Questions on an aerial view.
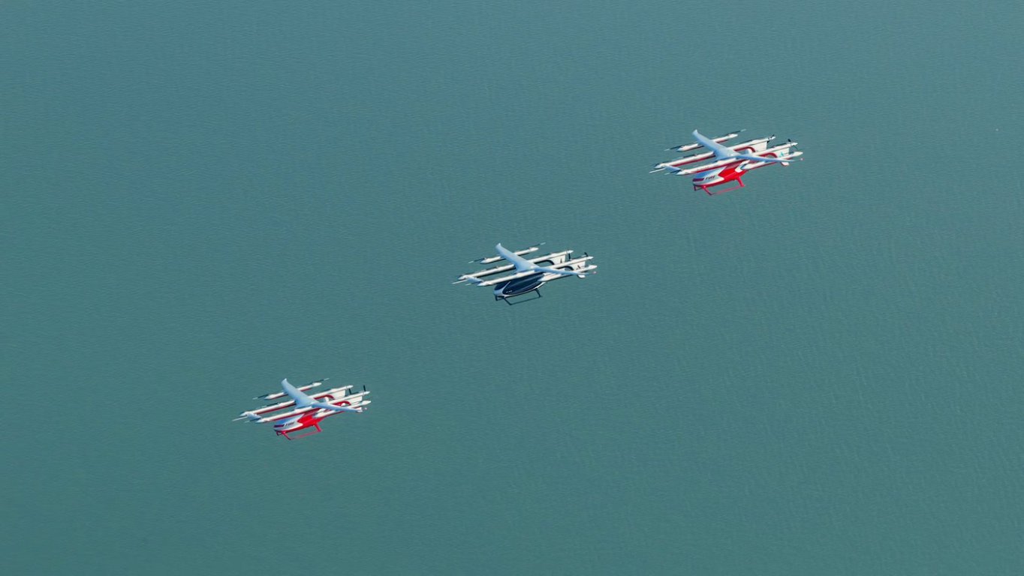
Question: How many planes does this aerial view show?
three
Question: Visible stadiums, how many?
none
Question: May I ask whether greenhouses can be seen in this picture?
No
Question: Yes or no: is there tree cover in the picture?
No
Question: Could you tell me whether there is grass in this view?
No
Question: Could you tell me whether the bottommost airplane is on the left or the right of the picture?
left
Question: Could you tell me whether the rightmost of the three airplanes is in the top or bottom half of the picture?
top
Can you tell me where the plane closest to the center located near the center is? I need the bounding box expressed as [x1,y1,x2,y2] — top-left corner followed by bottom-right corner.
[447,243,604,306]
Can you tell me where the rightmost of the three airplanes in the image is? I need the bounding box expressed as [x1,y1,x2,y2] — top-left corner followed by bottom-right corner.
[645,129,809,196]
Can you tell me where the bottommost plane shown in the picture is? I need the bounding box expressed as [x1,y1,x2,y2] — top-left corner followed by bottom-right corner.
[228,378,379,440]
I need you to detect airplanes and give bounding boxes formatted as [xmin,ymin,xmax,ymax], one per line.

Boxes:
[447,243,604,306]
[228,378,379,440]
[645,129,809,196]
